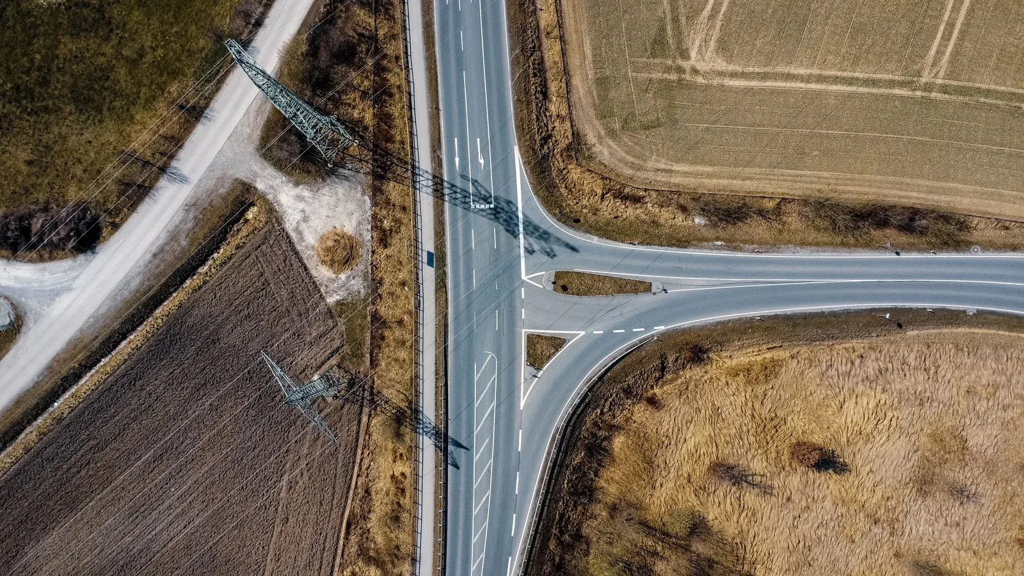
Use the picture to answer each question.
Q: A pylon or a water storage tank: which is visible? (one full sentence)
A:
The one in the frame is a pylon.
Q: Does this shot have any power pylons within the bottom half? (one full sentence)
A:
Yes, you'll find a power pylon within the bottom half.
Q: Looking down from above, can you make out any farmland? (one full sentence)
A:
Yes, farmland can be seen from above here.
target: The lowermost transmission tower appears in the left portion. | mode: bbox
[259,352,351,443]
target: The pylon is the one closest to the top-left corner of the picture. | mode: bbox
[219,38,359,168]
